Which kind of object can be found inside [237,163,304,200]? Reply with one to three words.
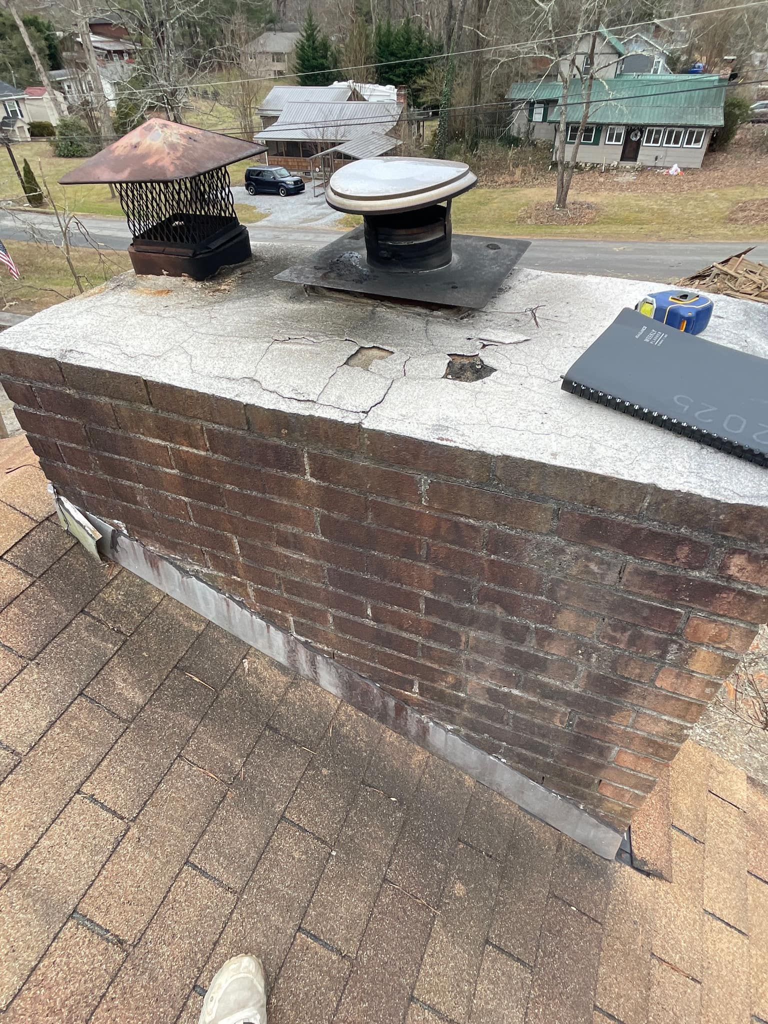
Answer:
car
